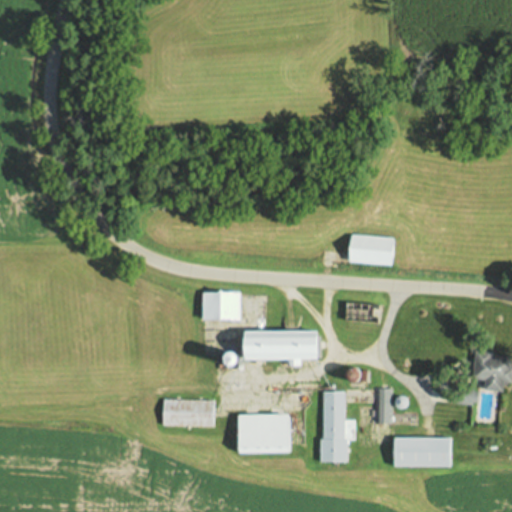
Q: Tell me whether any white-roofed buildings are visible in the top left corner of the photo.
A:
No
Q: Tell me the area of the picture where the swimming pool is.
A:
bottom right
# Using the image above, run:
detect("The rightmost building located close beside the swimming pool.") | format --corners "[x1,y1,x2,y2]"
[475,351,512,390]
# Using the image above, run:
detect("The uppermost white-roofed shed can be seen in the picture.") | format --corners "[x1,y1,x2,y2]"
[350,235,395,266]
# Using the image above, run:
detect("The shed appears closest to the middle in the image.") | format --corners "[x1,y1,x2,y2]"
[202,291,242,322]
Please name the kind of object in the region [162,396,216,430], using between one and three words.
shed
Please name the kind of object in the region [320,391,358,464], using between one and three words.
building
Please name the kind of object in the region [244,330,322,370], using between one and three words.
building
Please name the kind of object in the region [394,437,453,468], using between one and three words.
shed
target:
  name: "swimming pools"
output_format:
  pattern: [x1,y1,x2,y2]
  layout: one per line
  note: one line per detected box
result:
[476,388,498,424]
